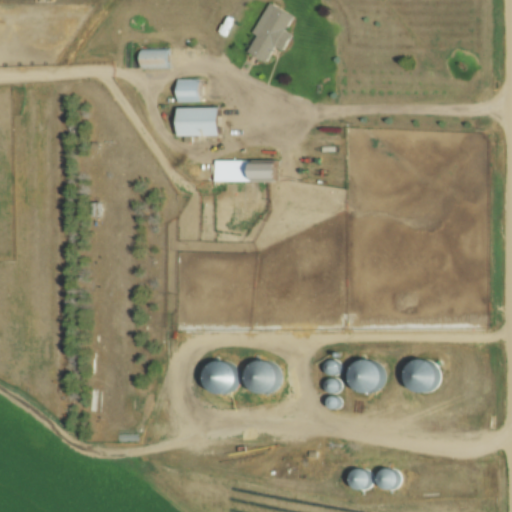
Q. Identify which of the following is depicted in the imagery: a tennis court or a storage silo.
storage silo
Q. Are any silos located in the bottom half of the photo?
Yes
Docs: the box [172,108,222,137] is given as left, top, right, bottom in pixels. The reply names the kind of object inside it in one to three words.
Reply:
shed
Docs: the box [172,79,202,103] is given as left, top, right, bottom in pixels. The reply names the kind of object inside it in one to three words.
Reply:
shed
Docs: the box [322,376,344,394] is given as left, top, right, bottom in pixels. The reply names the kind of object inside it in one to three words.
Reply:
silo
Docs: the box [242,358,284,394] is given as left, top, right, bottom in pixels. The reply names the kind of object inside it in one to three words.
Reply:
silo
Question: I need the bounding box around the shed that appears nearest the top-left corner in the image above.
[135,50,170,69]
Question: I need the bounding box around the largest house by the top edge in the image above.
[248,3,296,64]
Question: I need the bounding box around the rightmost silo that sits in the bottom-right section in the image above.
[402,358,443,394]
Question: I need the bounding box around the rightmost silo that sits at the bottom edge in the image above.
[376,466,404,490]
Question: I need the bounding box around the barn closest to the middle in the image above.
[212,160,276,182]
